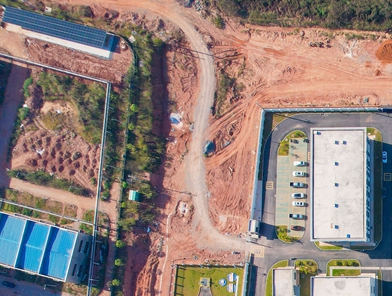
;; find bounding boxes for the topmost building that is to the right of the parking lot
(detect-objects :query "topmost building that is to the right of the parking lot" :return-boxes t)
[310,128,381,250]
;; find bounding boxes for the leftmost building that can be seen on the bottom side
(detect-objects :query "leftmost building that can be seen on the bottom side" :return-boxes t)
[0,211,91,284]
